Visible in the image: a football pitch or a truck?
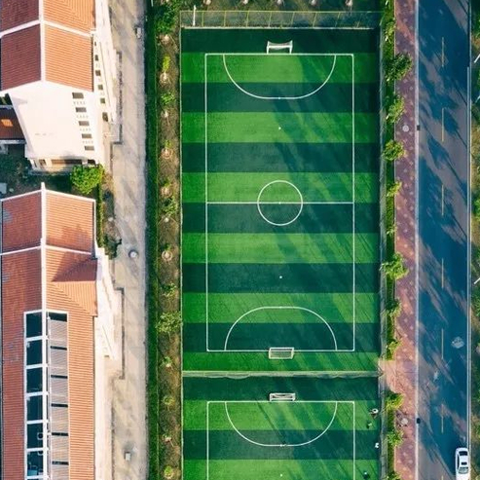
football pitch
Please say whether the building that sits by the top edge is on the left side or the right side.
left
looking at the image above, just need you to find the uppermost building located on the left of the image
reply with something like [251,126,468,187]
[0,0,125,177]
